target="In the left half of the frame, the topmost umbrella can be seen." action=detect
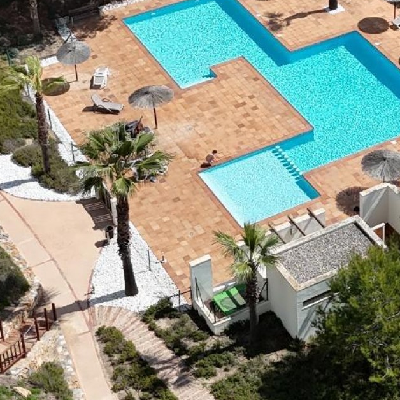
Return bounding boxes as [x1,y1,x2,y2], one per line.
[55,42,92,81]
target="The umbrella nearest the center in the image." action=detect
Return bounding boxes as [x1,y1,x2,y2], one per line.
[129,84,173,129]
